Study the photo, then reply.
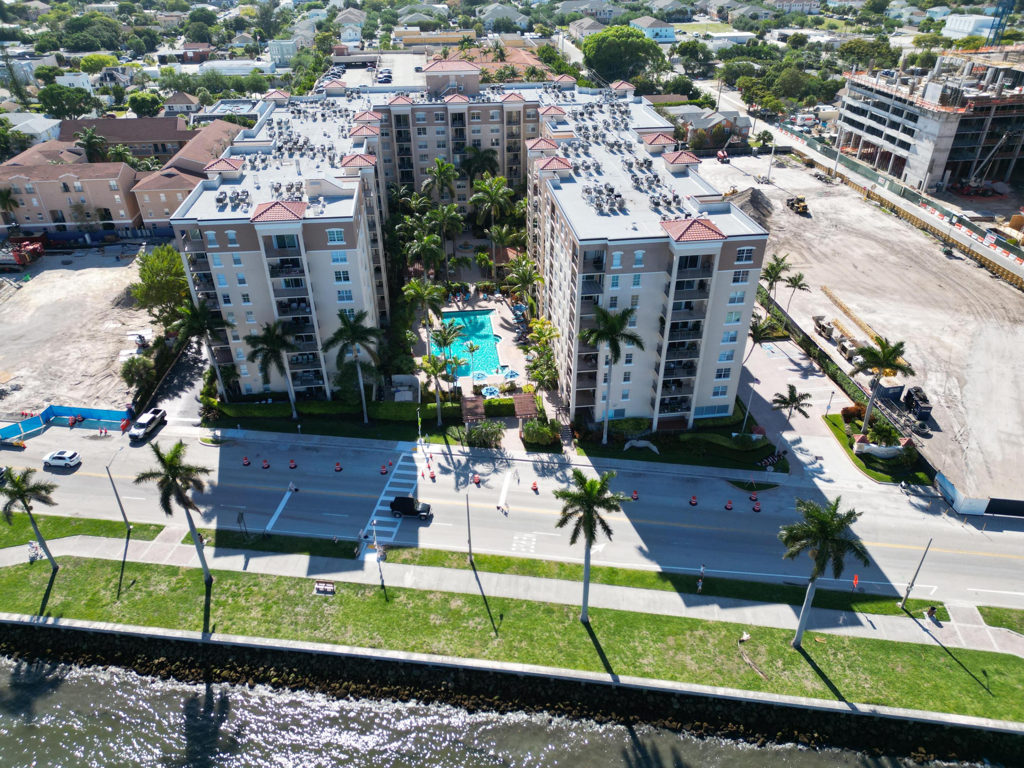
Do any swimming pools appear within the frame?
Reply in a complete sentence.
Yes, I can see a swimming pool in this picture.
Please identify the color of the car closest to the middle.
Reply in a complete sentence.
The car closest to the middle is black.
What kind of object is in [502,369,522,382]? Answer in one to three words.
umbrella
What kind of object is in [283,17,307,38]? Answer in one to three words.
house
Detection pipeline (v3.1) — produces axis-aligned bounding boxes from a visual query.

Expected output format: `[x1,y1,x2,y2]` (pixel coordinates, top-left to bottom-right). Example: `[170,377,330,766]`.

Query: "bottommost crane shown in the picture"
[956,128,1024,193]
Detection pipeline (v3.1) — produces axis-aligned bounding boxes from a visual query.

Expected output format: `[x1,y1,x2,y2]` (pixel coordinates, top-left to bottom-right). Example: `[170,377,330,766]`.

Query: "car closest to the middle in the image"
[388,501,431,524]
